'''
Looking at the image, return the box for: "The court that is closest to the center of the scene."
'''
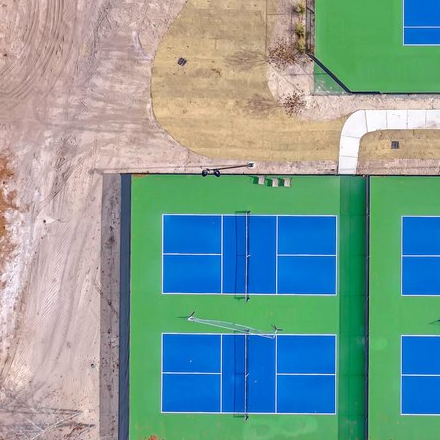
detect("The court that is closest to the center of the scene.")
[130,175,364,314]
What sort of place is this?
sports ground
